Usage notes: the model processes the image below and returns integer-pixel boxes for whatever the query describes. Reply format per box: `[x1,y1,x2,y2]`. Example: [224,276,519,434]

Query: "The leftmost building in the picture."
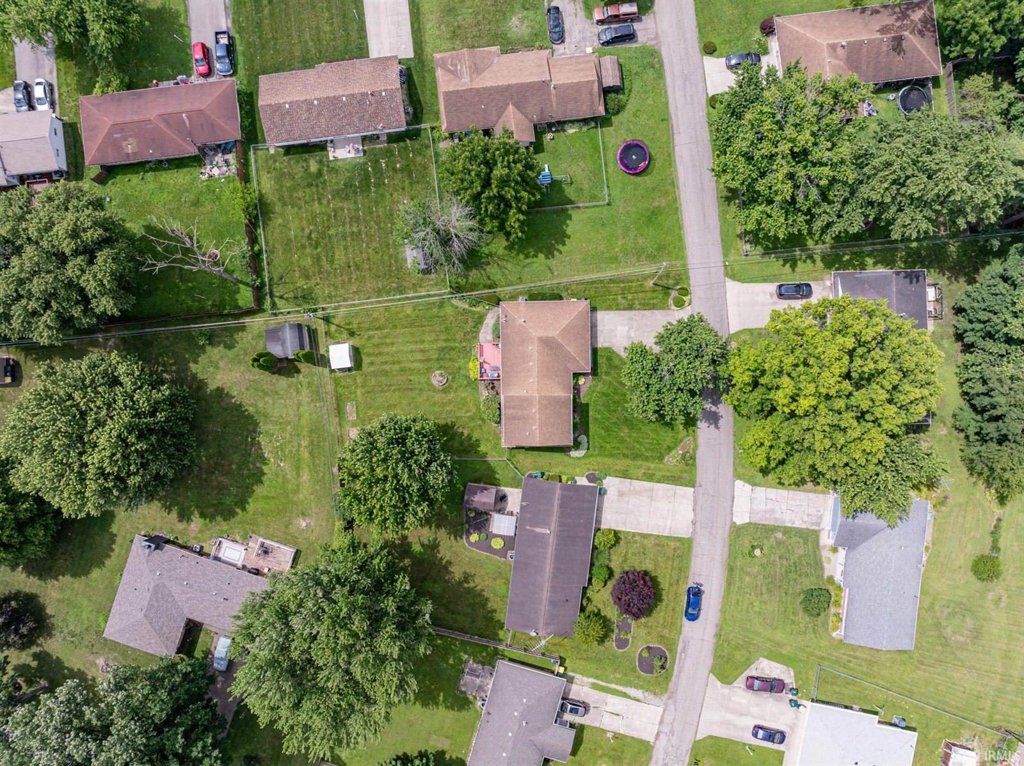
[0,109,71,192]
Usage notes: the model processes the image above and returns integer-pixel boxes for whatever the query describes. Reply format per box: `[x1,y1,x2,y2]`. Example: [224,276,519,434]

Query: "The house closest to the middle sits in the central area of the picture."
[500,300,591,447]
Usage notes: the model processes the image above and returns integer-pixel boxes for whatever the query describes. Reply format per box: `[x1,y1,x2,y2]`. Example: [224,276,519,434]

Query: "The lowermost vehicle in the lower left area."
[210,633,234,673]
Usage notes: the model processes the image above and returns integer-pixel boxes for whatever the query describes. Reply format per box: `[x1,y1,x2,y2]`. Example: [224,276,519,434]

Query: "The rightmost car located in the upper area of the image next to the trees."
[775,283,813,300]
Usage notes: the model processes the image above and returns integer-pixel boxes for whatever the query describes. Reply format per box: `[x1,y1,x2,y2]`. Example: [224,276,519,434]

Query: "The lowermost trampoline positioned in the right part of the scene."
[616,140,650,174]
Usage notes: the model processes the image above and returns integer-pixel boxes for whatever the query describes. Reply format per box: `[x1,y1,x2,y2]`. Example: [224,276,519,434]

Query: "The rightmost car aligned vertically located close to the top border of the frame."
[546,6,564,45]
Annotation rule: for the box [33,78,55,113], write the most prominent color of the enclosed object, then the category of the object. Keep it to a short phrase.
white car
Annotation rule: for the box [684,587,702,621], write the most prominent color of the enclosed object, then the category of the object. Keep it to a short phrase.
blue car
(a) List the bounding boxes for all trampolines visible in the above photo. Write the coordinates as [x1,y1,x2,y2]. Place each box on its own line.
[616,140,650,174]
[897,86,928,116]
